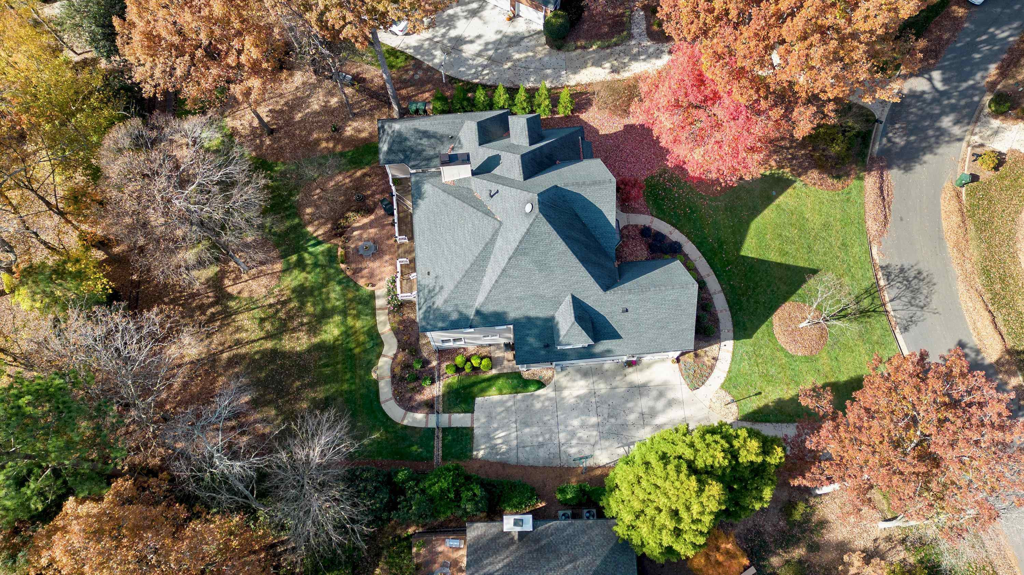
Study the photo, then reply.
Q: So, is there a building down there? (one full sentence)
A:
Yes, a building can be made out from above.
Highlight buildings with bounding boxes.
[490,0,563,24]
[378,109,699,377]
[463,515,640,575]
